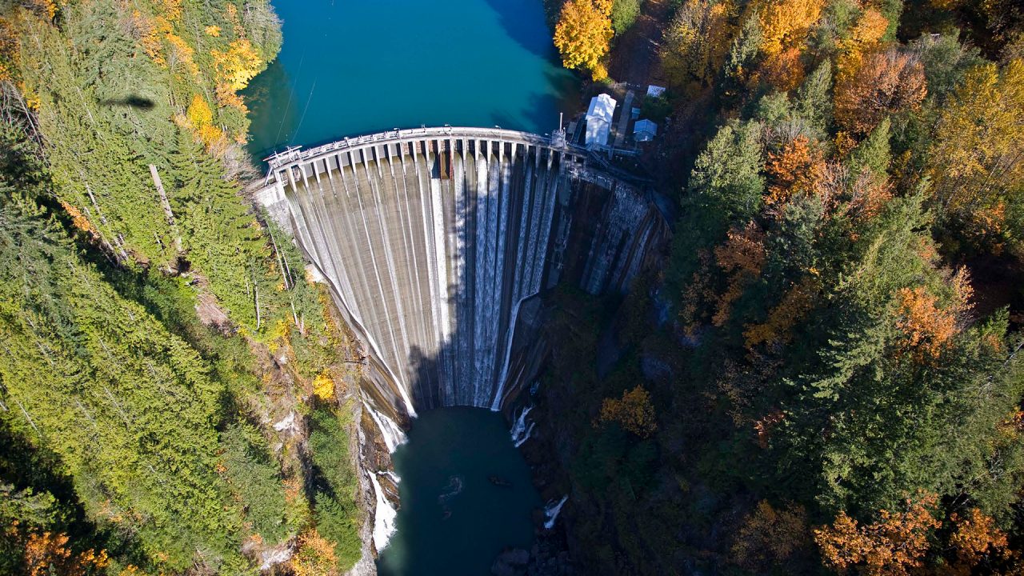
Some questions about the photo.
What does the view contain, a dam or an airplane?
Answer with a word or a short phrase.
dam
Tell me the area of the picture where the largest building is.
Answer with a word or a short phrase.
top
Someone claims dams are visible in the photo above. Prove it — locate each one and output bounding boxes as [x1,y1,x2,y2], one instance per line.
[252,122,680,416]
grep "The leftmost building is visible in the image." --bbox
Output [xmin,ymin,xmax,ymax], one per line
[548,103,570,152]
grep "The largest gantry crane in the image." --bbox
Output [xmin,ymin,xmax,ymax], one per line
[264,141,303,176]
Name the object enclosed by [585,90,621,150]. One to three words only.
building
